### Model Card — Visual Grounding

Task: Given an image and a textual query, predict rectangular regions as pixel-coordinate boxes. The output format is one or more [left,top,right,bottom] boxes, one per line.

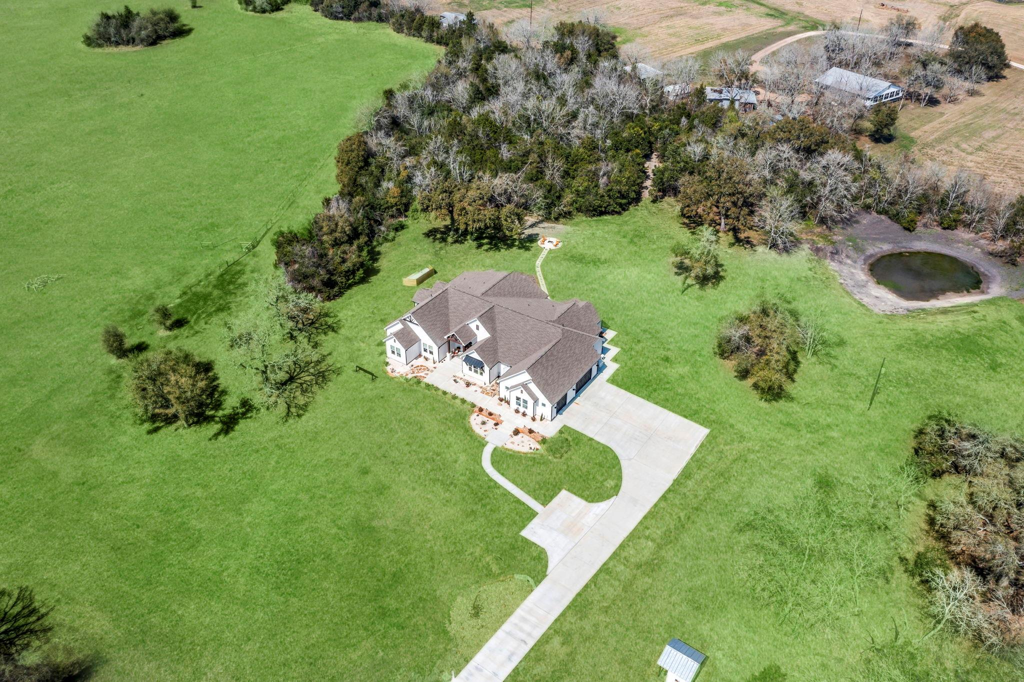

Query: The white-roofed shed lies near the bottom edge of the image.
[658,640,704,682]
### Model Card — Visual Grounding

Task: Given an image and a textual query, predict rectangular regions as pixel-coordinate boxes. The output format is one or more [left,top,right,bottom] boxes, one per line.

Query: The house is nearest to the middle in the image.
[382,269,608,422]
